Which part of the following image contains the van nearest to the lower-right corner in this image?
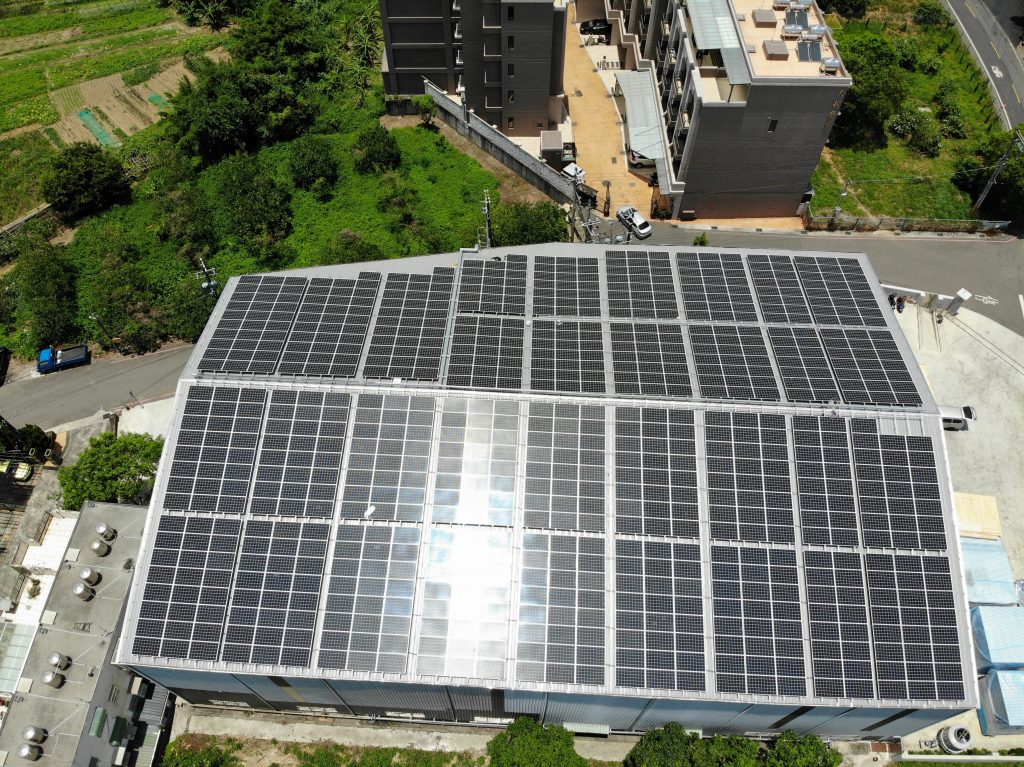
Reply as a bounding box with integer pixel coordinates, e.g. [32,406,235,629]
[934,404,979,433]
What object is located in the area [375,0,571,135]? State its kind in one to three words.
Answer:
building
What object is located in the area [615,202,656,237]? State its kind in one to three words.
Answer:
car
